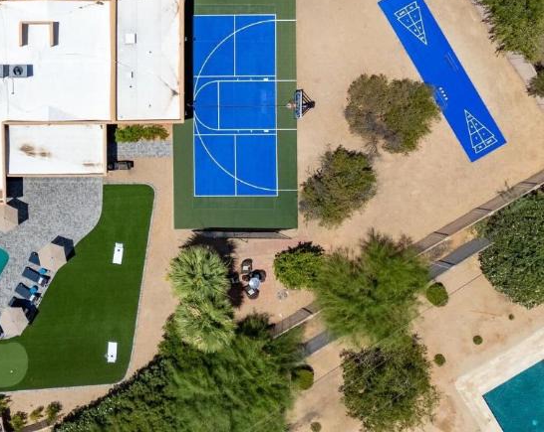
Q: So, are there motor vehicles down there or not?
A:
No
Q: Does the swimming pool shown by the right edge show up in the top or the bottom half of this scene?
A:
bottom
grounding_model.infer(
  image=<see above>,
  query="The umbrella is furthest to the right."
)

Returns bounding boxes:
[38,243,66,272]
